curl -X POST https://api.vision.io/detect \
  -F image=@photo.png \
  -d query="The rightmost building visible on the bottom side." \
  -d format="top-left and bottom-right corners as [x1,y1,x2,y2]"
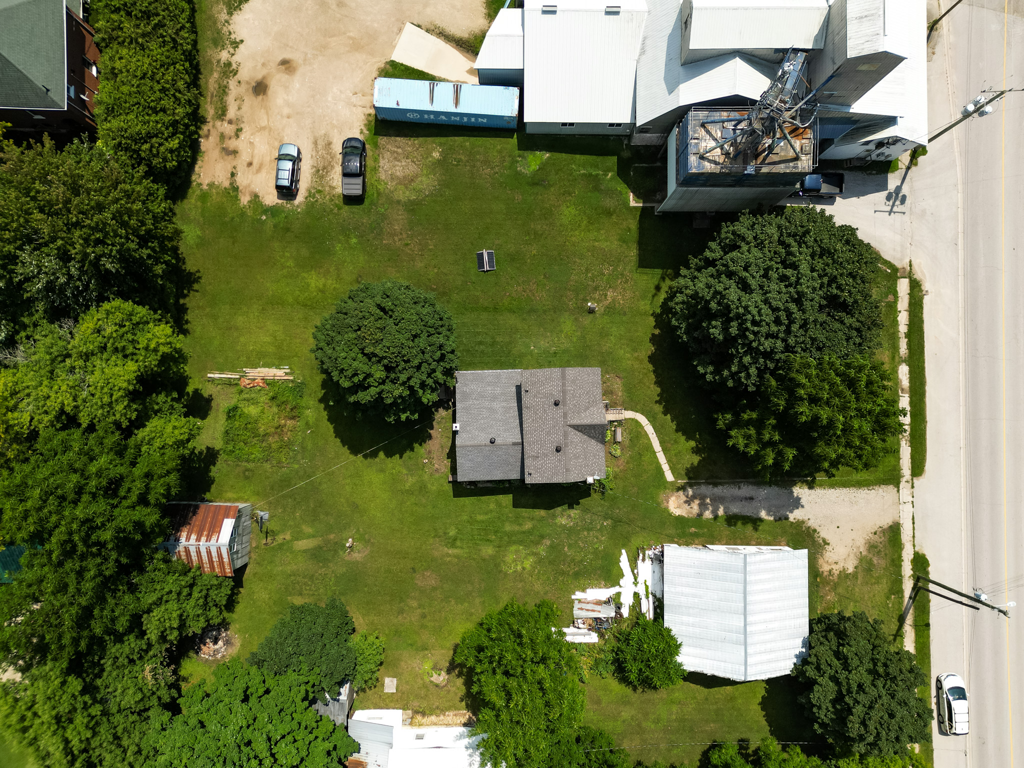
[659,540,805,685]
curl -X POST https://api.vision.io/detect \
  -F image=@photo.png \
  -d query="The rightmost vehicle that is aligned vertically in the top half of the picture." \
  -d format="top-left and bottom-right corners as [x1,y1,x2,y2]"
[340,136,368,199]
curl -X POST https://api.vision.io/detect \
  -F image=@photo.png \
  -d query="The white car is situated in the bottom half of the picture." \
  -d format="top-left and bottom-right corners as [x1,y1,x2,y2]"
[940,678,973,737]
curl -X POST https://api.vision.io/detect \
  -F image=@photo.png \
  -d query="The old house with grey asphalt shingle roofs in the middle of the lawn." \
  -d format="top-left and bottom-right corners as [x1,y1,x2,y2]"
[436,368,627,486]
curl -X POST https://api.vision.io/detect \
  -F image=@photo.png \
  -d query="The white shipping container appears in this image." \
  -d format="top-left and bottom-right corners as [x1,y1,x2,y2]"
[373,77,520,128]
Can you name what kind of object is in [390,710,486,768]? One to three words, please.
house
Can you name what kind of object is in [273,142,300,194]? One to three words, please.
car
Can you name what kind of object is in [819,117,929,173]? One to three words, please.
building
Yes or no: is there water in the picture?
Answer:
No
